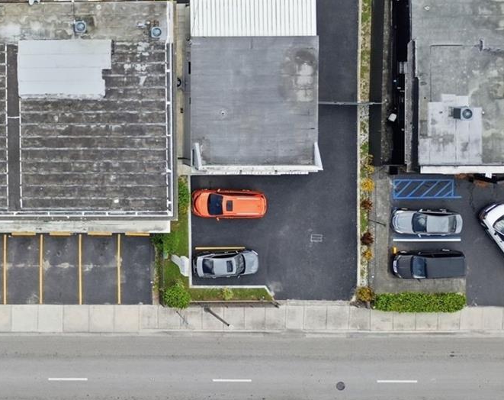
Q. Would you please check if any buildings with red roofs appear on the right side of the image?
No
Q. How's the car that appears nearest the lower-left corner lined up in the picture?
from left to right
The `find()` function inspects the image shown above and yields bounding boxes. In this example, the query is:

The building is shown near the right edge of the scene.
[398,0,504,173]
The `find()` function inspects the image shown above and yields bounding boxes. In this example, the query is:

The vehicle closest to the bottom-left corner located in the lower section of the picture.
[191,247,257,279]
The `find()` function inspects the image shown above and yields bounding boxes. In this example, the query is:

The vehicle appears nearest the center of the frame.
[191,189,268,221]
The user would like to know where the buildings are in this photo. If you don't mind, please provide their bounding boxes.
[0,1,178,233]
[183,0,324,173]
[398,0,504,173]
